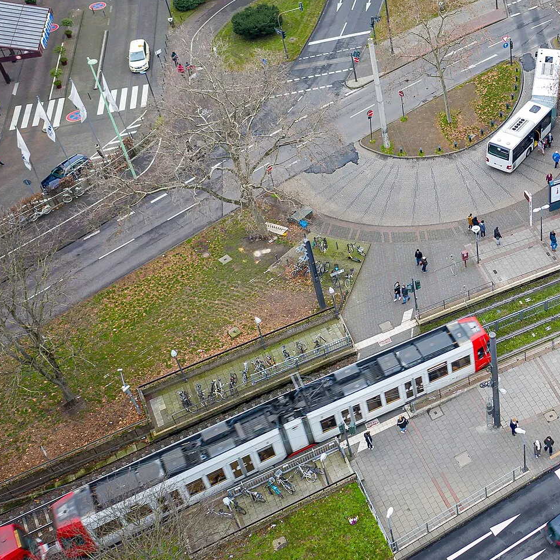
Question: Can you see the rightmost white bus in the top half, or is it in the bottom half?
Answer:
top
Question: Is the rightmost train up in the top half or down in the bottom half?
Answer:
bottom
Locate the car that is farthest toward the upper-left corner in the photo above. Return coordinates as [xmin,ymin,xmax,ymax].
[128,40,147,67]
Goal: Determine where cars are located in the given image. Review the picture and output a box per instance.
[36,156,93,187]
[128,40,147,67]
[541,514,560,555]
